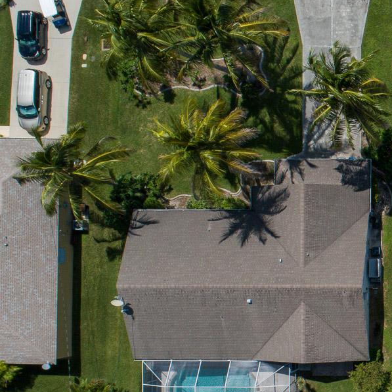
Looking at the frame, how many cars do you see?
two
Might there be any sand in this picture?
No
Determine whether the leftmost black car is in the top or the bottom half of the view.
top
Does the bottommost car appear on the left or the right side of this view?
left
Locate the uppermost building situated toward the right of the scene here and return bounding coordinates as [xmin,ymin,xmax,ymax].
[117,159,372,364]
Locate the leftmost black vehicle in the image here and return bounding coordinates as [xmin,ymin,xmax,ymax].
[16,8,50,62]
